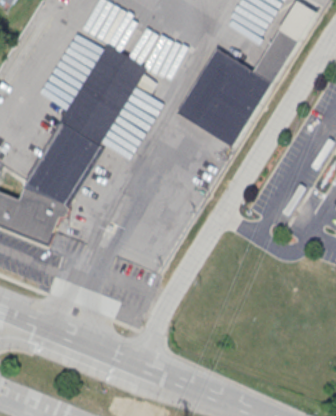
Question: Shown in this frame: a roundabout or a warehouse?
warehouse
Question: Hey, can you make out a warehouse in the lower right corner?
No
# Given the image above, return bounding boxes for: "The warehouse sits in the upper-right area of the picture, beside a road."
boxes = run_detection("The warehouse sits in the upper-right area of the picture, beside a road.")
[178,1,320,147]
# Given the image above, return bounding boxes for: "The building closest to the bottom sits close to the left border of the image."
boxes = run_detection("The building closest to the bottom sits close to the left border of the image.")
[0,188,70,245]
